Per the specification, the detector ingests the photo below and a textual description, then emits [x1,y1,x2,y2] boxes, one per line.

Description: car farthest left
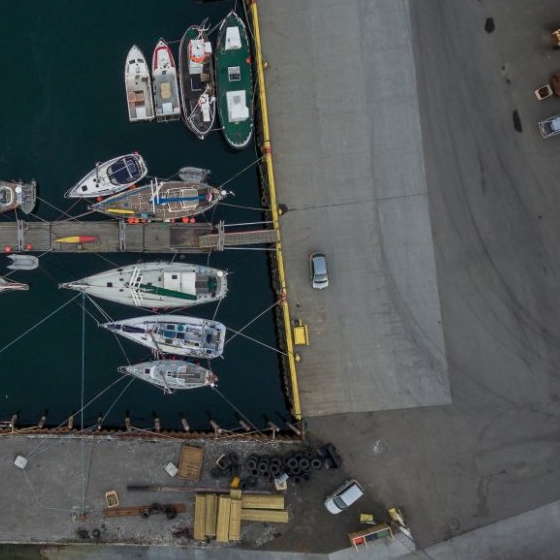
[308,252,329,289]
